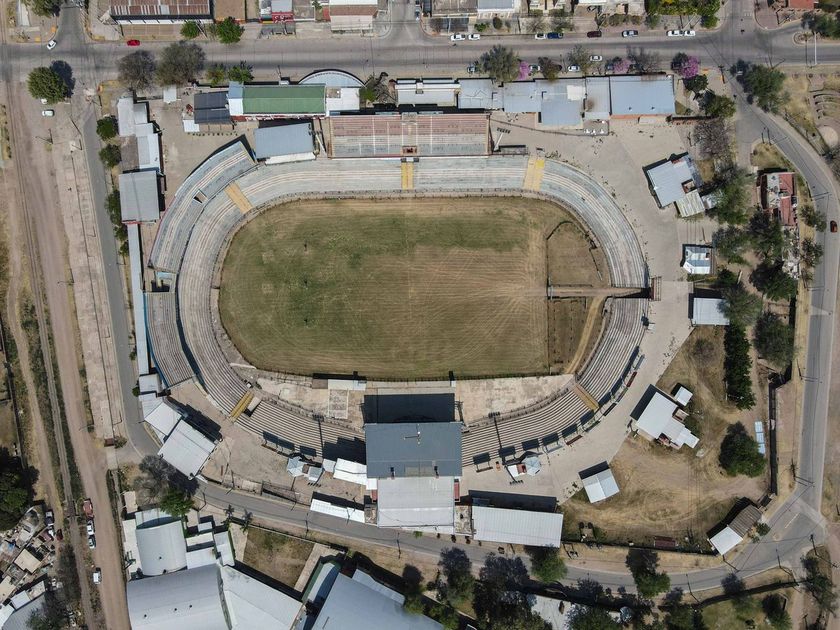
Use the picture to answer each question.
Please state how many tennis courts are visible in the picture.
none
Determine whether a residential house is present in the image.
Yes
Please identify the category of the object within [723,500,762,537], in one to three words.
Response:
barn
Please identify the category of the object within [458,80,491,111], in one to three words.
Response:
building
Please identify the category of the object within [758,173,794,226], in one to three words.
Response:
house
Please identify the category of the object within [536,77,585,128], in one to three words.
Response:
building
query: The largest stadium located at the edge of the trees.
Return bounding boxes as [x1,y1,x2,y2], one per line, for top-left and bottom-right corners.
[144,112,660,531]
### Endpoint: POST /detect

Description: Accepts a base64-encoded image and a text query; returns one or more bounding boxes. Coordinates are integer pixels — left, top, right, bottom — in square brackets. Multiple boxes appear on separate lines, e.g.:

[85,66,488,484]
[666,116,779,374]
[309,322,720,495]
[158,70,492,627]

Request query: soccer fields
[209,189,646,450]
